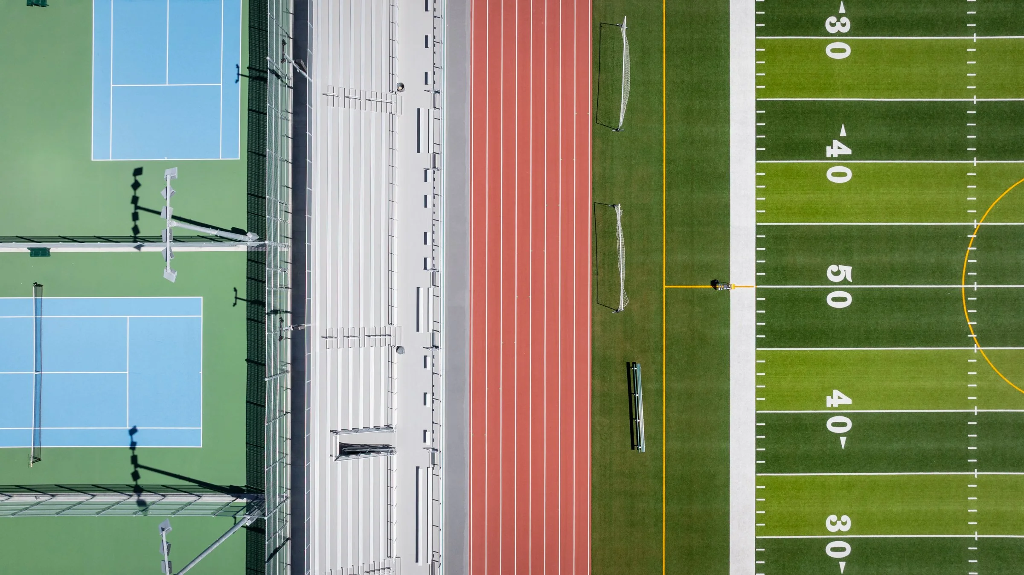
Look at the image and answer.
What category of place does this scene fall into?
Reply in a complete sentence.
This image shows a sports ground.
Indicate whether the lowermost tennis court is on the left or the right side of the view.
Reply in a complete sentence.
The lowermost tennis court appears in the left half of the scene.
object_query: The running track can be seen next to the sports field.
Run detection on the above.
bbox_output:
[469,0,592,575]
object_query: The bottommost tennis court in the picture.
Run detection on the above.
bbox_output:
[0,501,287,575]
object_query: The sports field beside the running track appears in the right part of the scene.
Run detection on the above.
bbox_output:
[591,0,1024,575]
